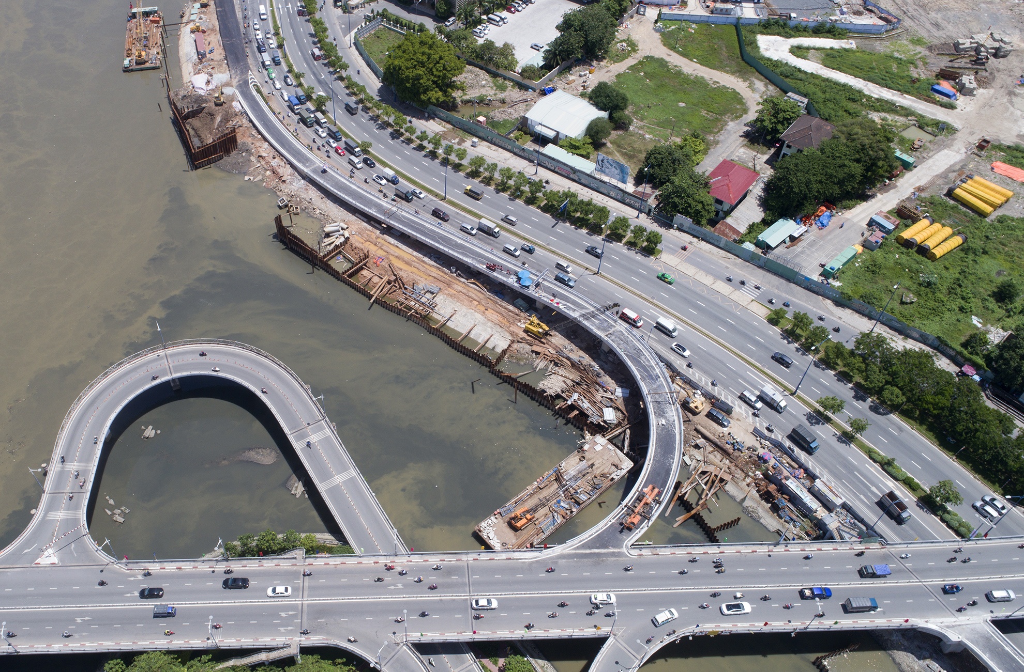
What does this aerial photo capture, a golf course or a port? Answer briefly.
port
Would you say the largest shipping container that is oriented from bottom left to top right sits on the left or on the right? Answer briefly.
right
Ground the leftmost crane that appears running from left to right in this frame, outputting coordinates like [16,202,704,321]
[522,306,618,339]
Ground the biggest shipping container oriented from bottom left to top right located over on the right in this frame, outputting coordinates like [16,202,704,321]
[816,242,866,280]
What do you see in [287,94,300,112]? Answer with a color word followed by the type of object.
blue vehicle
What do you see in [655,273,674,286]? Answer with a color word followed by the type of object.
green vehicle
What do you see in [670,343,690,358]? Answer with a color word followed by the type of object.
white car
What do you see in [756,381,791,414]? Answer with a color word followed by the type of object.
white truck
